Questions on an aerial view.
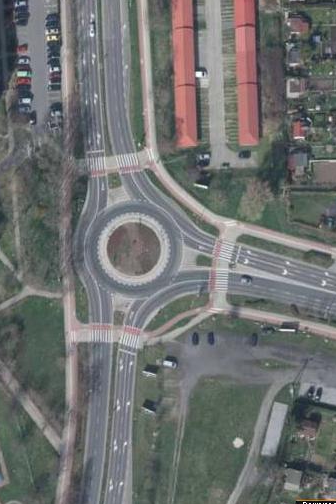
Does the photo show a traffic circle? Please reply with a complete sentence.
Yes, you can see a traffic circle in this photo.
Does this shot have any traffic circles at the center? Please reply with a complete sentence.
Yes, a traffic circle shows up at the center.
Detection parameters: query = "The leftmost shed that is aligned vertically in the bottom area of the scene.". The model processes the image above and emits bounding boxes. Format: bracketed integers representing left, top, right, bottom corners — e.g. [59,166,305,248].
[260,402,288,457]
